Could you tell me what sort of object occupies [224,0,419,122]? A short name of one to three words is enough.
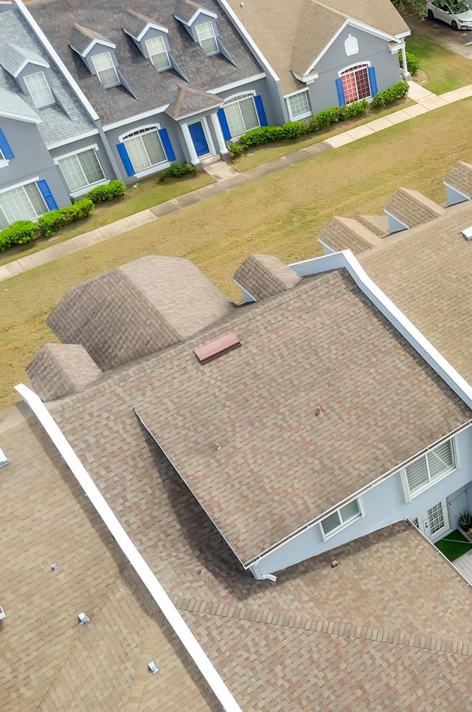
house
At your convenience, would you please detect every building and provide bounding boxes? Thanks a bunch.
[0,9,113,230]
[0,394,223,712]
[22,0,279,182]
[319,162,472,385]
[224,0,419,122]
[25,252,472,712]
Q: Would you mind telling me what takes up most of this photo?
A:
buildings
